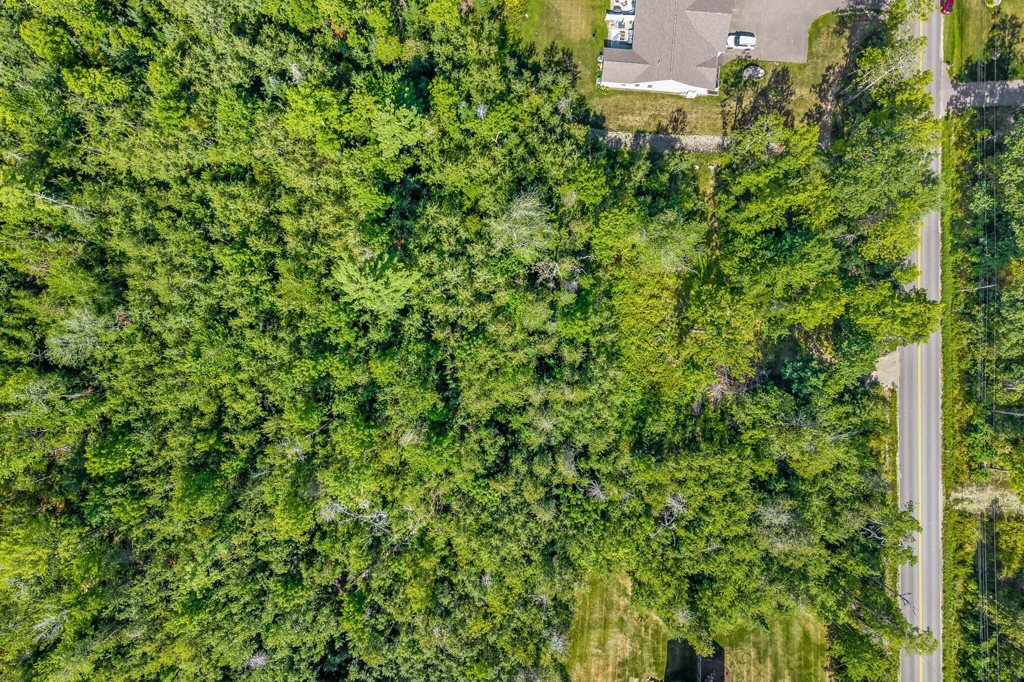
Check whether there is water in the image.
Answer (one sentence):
No, water can't be seen anywhere here.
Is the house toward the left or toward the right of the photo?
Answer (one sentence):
The house appears in the right half of the scene.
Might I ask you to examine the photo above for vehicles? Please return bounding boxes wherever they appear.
[939,0,953,15]
[726,36,756,52]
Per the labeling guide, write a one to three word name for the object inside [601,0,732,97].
house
